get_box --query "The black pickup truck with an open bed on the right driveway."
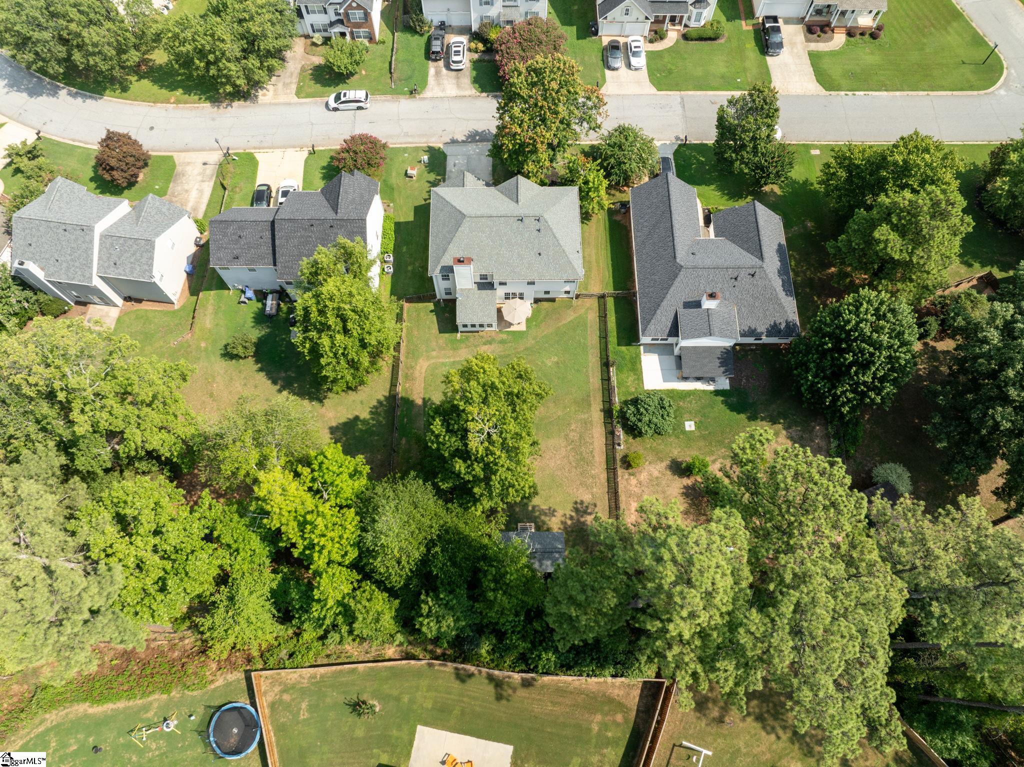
[761,14,785,56]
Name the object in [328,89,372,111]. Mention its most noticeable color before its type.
white car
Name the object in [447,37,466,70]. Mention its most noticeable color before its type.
white car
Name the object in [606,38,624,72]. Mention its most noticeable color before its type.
gray car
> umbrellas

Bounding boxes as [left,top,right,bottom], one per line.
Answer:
[500,299,531,328]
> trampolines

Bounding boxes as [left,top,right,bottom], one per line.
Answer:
[199,700,262,763]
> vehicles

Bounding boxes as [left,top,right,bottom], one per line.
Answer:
[428,29,445,60]
[658,154,677,179]
[447,37,466,70]
[328,89,372,111]
[606,38,624,72]
[627,36,648,71]
[250,180,273,206]
[277,180,298,206]
[761,14,785,56]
